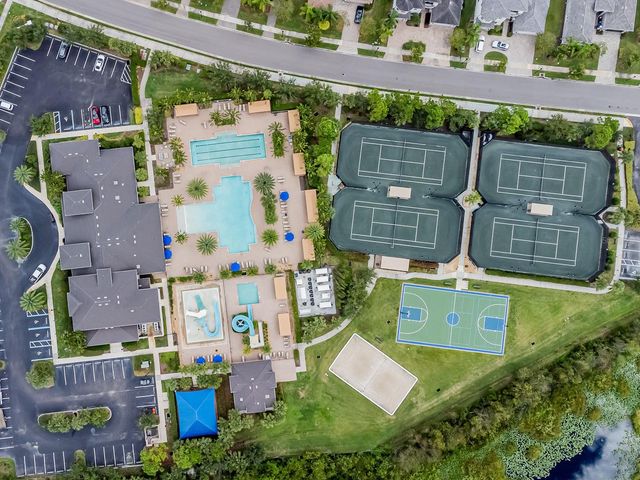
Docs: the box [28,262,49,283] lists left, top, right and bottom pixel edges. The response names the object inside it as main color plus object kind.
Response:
white car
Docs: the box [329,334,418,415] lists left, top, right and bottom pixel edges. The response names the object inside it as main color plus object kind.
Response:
white sports court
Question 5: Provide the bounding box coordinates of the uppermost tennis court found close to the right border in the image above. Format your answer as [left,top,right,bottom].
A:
[479,140,610,215]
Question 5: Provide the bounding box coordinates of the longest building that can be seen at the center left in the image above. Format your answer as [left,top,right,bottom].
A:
[49,140,167,346]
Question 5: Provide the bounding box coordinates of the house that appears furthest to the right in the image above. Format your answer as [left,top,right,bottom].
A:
[561,0,636,46]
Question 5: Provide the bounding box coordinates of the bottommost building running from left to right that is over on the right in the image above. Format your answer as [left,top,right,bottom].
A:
[381,256,410,272]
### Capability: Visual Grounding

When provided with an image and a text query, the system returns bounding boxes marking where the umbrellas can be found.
[279,191,289,201]
[213,354,222,363]
[231,262,240,272]
[285,232,294,242]
[196,355,206,364]
[164,249,173,259]
[163,235,172,244]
